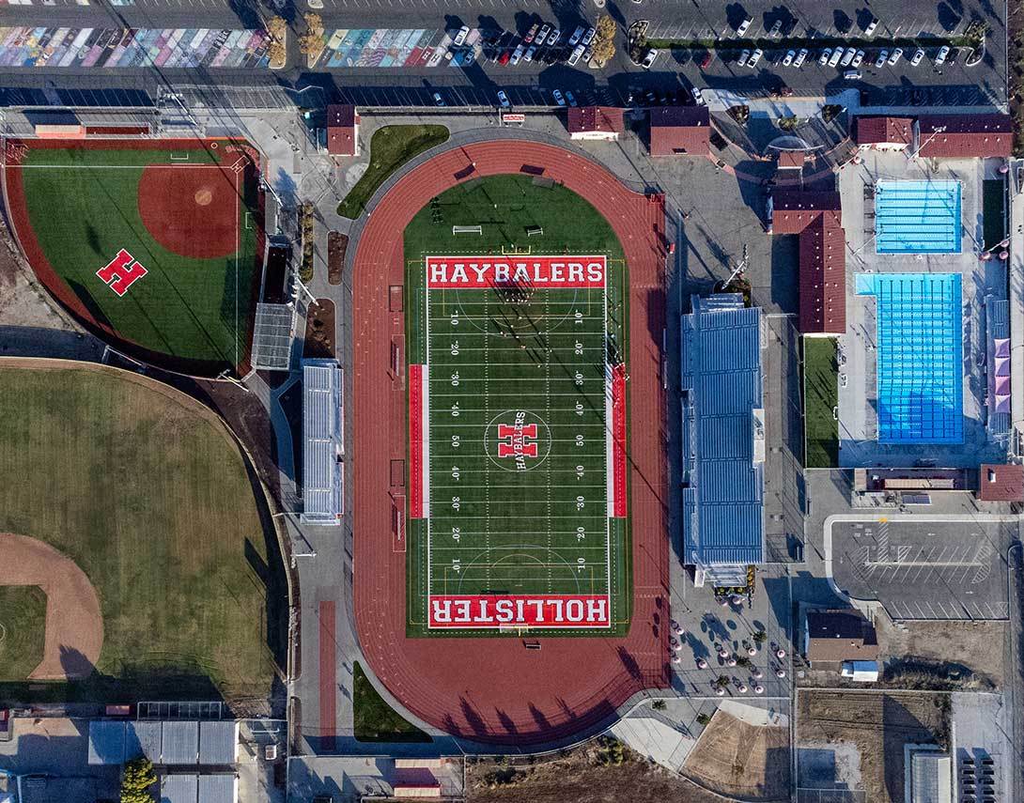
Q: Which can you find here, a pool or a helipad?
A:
pool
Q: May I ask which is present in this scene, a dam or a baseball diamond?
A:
baseball diamond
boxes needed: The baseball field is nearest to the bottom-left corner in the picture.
[0,358,289,721]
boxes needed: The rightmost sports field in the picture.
[403,174,628,638]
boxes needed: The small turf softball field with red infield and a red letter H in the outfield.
[5,138,264,380]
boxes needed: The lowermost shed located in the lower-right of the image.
[900,741,950,803]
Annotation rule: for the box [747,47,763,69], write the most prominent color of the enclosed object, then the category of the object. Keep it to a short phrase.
white vehicle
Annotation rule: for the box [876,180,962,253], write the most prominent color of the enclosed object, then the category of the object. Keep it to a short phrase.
blue swimming pool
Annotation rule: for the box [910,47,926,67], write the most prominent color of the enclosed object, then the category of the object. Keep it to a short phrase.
white car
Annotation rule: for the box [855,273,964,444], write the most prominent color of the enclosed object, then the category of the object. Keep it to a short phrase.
blue swimming pool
